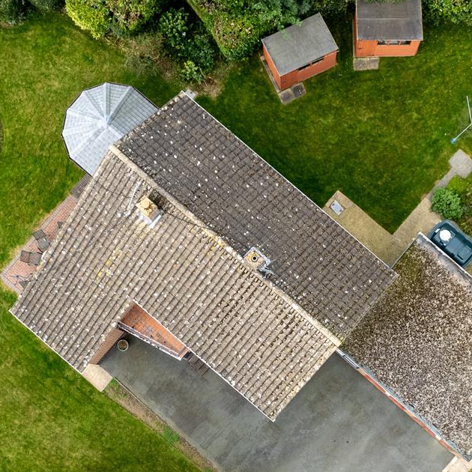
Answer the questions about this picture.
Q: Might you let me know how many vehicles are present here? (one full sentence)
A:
Not a single vehicle can be seen.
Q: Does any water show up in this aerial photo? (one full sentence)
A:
No, water can't be seen anywhere here.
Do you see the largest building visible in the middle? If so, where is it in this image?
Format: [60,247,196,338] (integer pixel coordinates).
[5,88,396,417]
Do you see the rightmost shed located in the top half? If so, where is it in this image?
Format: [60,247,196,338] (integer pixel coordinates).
[355,0,422,57]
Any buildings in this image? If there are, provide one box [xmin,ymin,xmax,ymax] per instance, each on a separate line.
[5,88,396,417]
[262,12,338,90]
[355,0,422,57]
